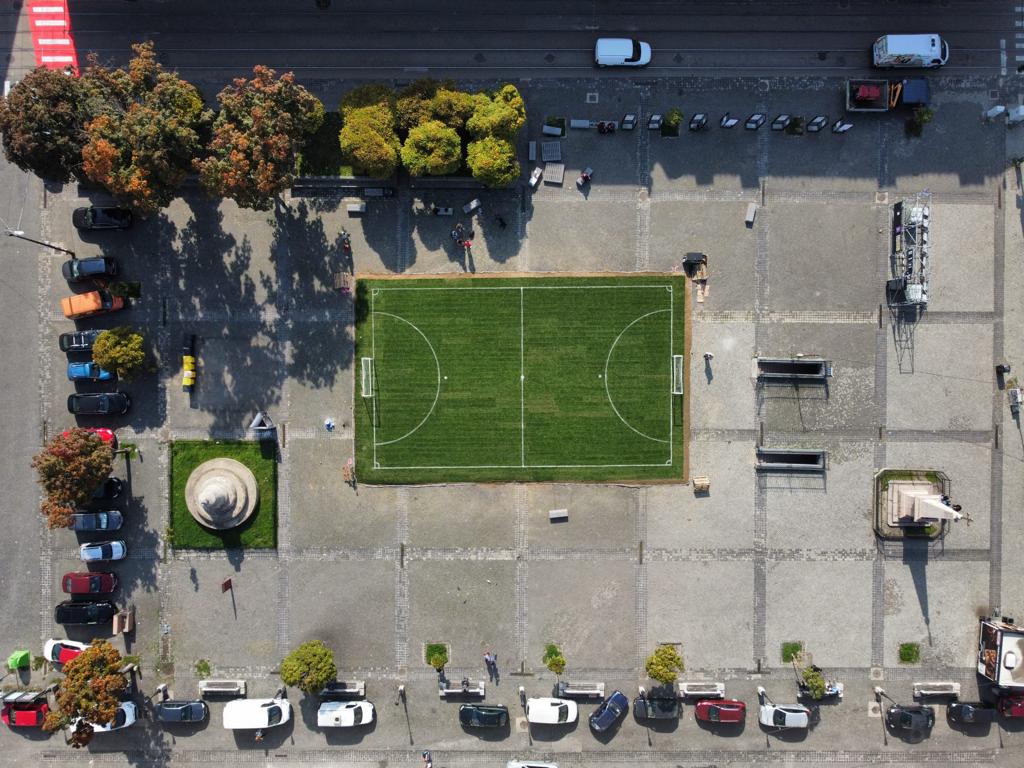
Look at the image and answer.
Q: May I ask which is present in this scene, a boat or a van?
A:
van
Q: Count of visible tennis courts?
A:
zero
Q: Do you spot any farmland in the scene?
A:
No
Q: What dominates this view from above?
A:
paved ground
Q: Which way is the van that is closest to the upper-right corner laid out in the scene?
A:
from side to side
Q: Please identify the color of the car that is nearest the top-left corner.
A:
black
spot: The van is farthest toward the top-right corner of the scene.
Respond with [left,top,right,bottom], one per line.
[869,32,943,69]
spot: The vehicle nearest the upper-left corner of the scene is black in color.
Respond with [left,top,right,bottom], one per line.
[75,204,133,231]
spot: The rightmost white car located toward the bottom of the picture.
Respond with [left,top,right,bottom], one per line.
[756,700,811,728]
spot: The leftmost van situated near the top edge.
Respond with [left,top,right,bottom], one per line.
[594,38,649,69]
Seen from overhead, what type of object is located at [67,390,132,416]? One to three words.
car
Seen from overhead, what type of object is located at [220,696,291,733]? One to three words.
van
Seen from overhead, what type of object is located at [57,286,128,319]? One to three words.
van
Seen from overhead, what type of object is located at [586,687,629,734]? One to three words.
car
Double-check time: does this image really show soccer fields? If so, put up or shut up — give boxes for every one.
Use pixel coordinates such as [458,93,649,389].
[355,272,691,486]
